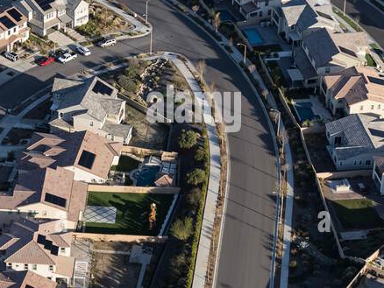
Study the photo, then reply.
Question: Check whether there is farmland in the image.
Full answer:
No, the scene doesn't show any farmland.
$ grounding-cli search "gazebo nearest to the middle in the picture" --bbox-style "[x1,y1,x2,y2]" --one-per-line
[151,173,176,193]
